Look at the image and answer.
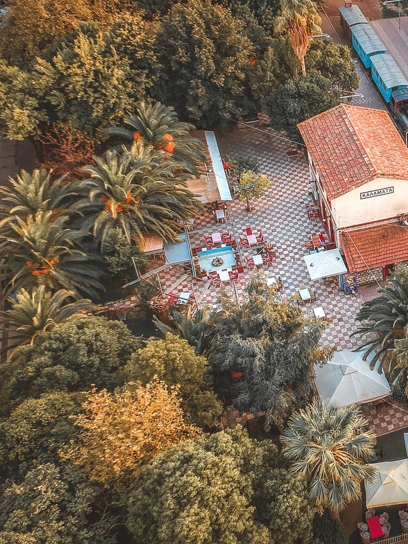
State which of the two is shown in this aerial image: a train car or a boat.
train car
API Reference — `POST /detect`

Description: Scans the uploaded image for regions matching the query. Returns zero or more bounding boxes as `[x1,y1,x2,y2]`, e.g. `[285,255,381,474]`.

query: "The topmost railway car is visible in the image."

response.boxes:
[352,25,387,75]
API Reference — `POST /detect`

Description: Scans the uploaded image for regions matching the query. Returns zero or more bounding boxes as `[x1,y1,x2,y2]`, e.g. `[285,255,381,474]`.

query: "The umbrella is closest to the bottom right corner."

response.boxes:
[363,457,408,508]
